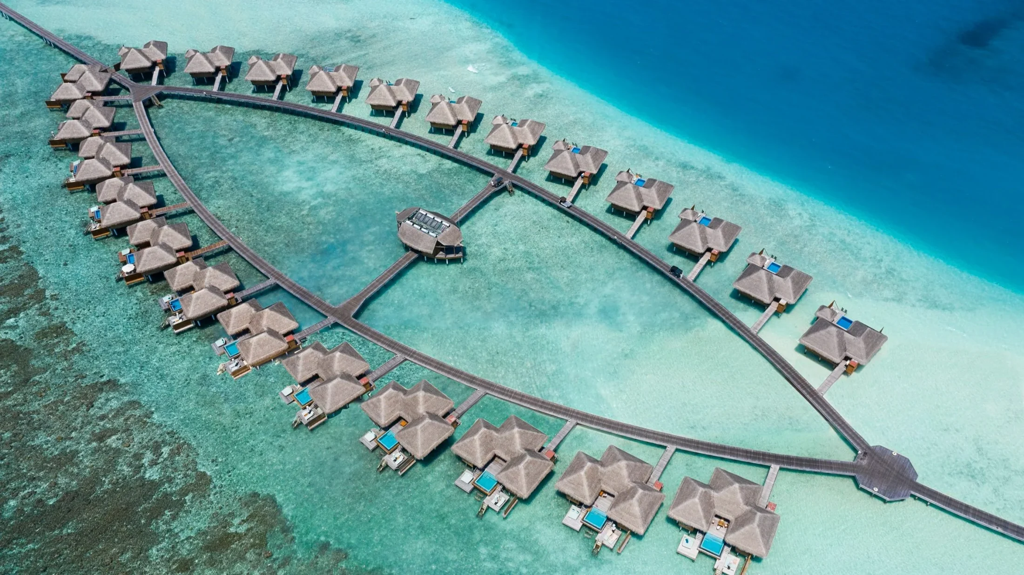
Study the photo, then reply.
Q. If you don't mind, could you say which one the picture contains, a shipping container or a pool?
pool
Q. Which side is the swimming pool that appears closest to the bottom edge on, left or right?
right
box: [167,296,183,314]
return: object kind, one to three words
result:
swimming pool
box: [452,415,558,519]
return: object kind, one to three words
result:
house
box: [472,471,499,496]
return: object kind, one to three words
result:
swimming pool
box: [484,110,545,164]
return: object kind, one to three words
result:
house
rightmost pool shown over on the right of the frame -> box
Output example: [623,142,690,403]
[834,314,856,330]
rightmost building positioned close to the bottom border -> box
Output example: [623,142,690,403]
[669,468,781,575]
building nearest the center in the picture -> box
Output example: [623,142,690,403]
[395,208,465,268]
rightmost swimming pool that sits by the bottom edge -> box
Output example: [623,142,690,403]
[698,534,727,561]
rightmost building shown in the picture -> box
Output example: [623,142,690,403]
[800,297,888,383]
